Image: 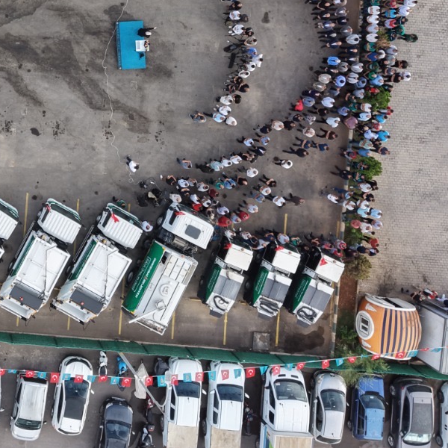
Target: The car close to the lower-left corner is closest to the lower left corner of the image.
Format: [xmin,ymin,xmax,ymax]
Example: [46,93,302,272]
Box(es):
[12,371,47,442]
